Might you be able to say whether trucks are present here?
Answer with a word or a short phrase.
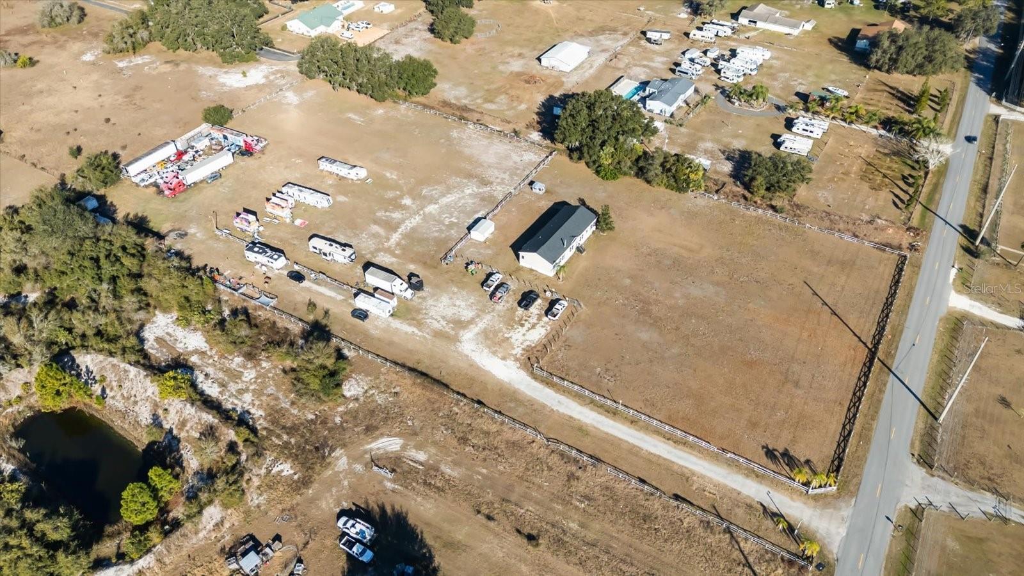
Yes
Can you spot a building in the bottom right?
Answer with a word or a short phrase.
No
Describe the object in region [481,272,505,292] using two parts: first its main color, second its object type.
white vehicle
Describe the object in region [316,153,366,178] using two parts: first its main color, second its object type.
white trailer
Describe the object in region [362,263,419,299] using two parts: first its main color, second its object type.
white truck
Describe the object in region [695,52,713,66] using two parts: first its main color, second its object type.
white camper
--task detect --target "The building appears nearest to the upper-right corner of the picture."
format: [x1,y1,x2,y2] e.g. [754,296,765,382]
[856,23,934,51]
